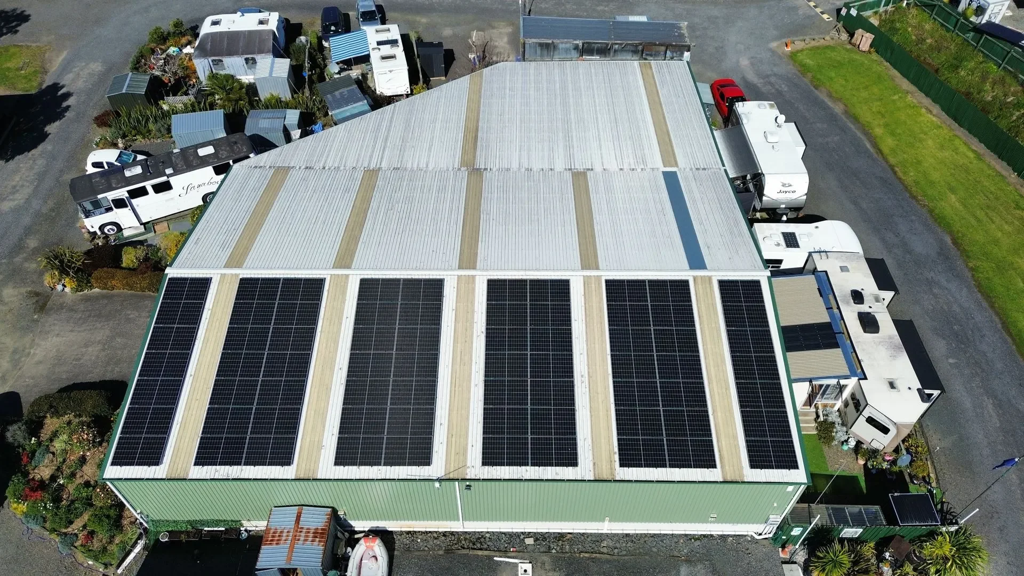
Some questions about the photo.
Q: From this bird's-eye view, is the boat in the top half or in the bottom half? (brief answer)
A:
bottom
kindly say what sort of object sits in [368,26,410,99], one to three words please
camper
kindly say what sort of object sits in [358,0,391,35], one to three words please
car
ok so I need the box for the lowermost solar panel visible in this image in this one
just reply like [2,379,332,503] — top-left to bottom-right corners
[883,492,939,526]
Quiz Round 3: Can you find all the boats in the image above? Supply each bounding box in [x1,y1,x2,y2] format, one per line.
[348,534,387,576]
